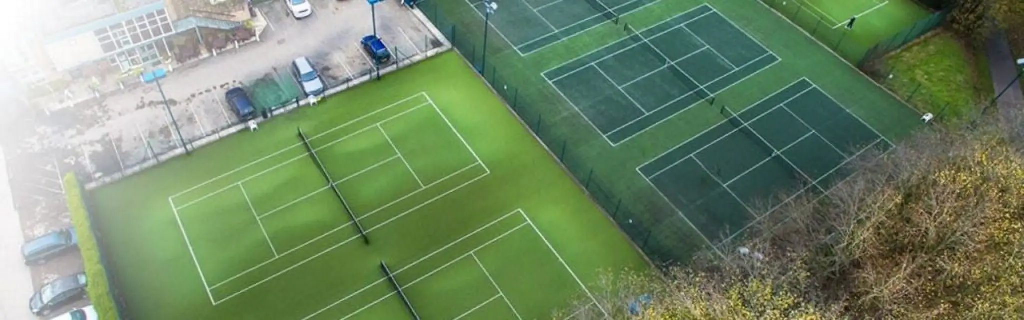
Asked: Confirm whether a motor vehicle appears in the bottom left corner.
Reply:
Yes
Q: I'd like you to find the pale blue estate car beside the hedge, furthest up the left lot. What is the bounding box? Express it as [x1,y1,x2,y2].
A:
[8,226,78,271]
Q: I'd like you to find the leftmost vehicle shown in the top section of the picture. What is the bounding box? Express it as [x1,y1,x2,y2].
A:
[223,83,256,119]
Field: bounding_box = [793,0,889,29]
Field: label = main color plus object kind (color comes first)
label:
green tennis court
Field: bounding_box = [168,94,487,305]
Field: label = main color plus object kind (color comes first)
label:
green tennis court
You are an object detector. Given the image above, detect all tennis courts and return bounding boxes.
[469,0,663,56]
[793,0,889,29]
[543,3,781,146]
[637,77,896,260]
[308,209,606,320]
[168,94,487,305]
